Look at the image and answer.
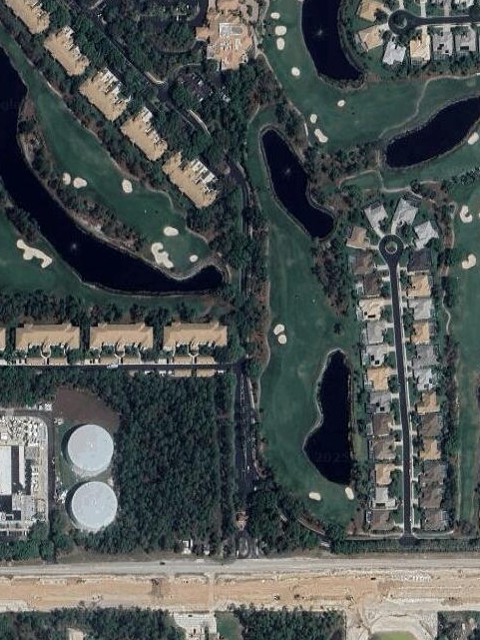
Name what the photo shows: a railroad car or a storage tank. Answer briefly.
storage tank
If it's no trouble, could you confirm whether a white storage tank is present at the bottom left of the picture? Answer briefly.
Yes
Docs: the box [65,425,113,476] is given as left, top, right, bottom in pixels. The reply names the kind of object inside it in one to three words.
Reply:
storage tank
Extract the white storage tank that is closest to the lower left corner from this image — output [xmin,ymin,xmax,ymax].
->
[69,482,117,533]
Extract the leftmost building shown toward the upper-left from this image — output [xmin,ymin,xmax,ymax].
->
[6,0,49,31]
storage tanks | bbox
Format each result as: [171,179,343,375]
[69,482,117,533]
[65,425,113,476]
